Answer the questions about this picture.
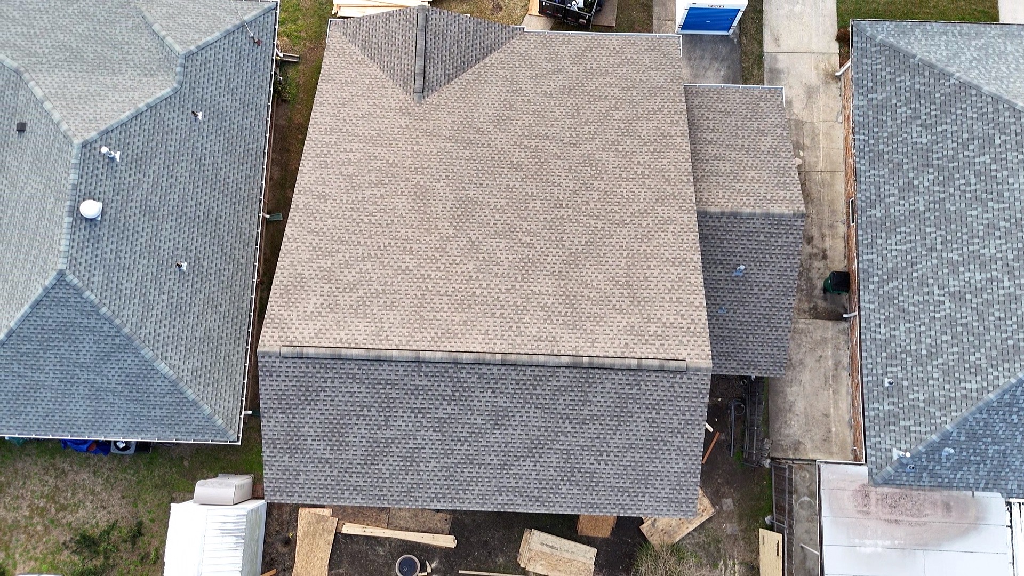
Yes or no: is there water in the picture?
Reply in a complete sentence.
No, the picture contains no water.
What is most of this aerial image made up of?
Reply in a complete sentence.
The bulk of the photo consists of buildings.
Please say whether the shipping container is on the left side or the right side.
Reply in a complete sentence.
You can find the shipping container on the right side of the picture.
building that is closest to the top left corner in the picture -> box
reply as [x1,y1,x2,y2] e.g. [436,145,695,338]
[0,0,286,447]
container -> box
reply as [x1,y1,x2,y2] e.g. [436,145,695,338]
[675,0,750,34]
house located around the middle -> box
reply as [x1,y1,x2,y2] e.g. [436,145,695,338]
[262,5,805,518]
